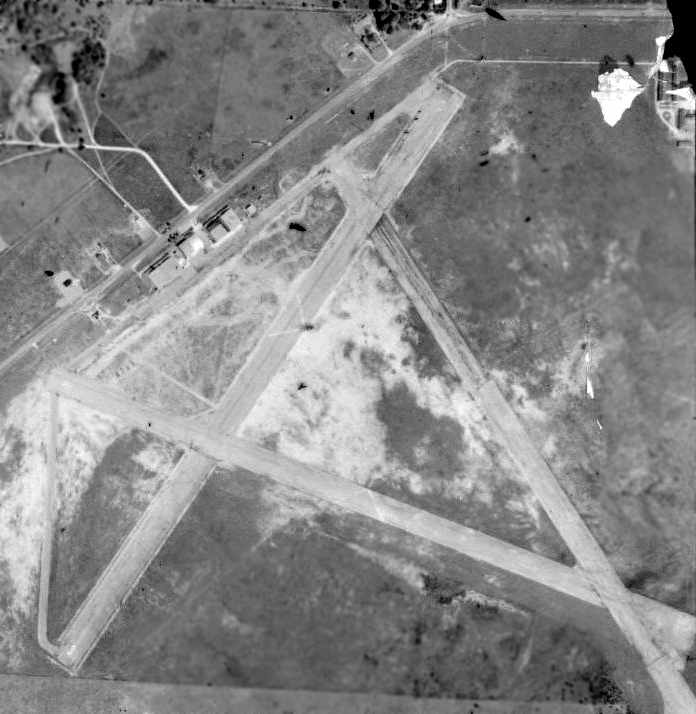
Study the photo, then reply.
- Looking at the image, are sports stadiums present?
No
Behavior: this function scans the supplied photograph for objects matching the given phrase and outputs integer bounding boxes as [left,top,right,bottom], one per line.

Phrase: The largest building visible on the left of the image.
[149,257,181,288]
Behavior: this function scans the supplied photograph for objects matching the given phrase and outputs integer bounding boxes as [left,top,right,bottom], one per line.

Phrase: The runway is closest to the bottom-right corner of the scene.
[475,373,696,714]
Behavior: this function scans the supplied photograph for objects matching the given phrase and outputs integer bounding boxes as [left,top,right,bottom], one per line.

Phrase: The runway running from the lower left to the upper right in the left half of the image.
[60,85,461,667]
